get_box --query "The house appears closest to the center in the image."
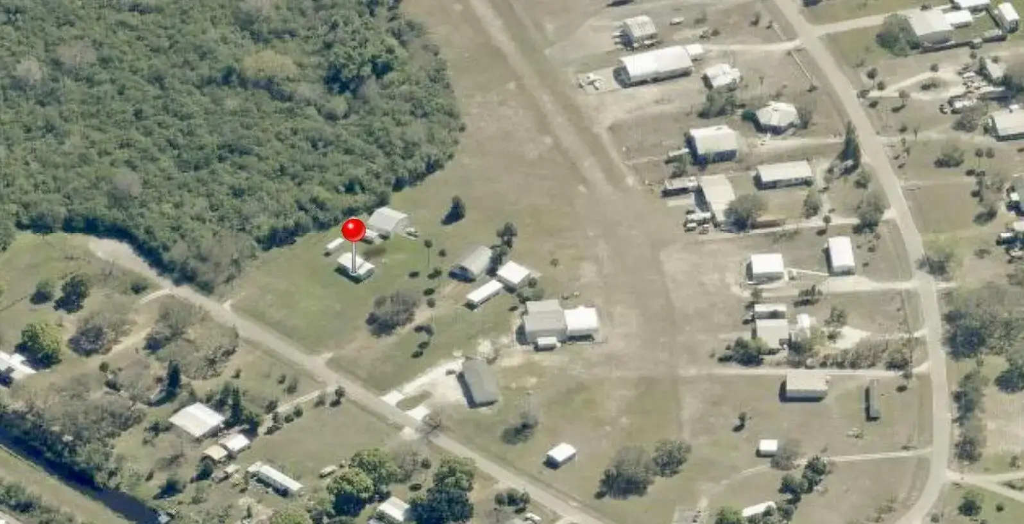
[497,262,532,291]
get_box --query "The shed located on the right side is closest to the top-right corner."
[995,4,1018,30]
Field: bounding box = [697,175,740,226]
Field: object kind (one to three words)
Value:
building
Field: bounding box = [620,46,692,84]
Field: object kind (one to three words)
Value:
hangar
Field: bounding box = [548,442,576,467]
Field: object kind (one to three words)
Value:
barn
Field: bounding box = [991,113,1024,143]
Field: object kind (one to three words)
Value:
house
